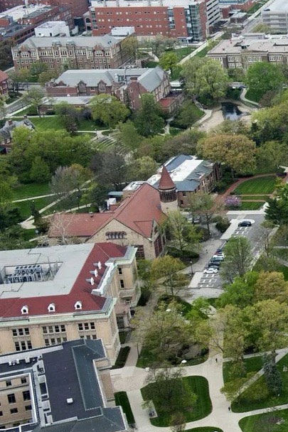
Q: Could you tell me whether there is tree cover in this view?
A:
Yes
